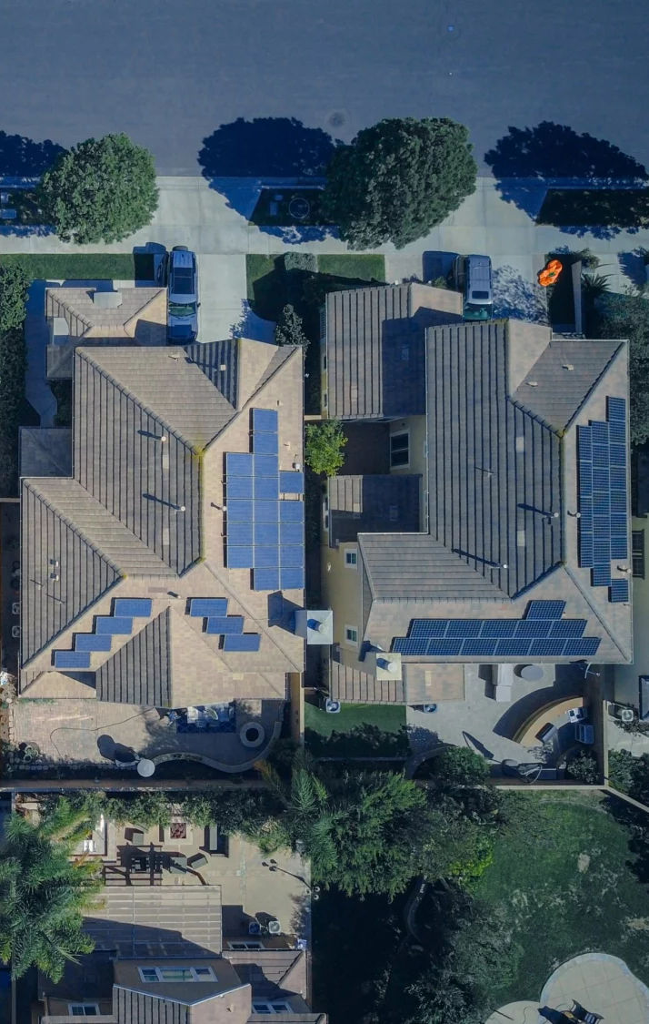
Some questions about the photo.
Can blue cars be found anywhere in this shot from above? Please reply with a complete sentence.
Yes, the image includes a blue car.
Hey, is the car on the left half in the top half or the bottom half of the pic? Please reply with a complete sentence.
It is in the top half that the car on the left half appears.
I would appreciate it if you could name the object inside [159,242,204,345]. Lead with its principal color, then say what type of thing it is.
blue car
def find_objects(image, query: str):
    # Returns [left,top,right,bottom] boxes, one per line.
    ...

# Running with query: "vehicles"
[159,242,204,345]
[446,255,495,323]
